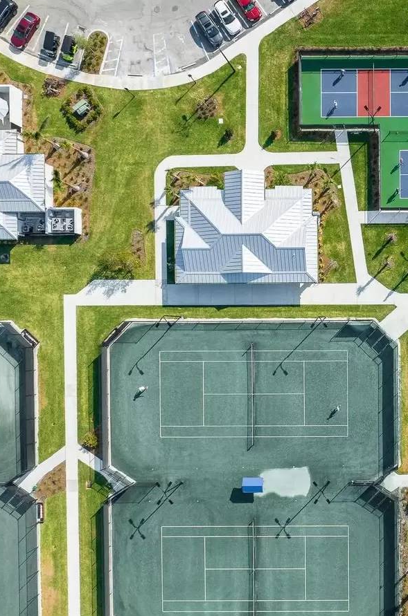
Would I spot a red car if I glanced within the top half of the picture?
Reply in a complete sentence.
Yes, you'll find a red car within the top half of the picture.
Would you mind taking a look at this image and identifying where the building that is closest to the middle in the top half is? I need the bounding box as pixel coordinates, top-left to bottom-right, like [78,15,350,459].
[164,166,318,284]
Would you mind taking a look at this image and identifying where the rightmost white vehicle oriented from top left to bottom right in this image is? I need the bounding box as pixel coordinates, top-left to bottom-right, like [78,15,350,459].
[212,0,242,38]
